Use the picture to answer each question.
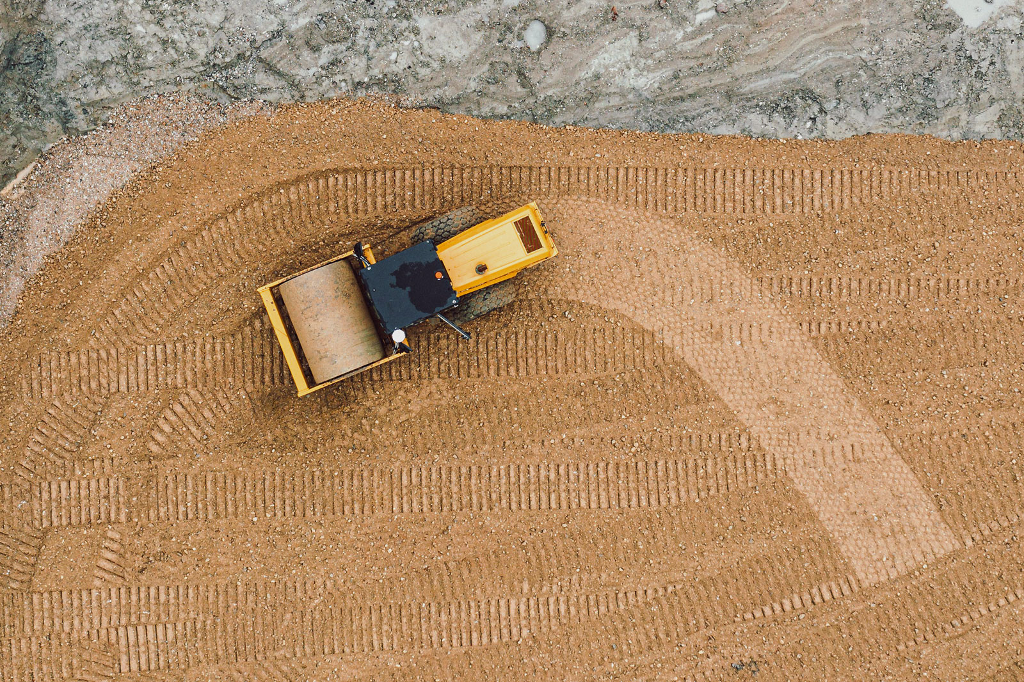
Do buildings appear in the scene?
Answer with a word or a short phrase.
No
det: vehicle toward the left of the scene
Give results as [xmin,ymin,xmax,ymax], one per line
[258,201,559,396]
